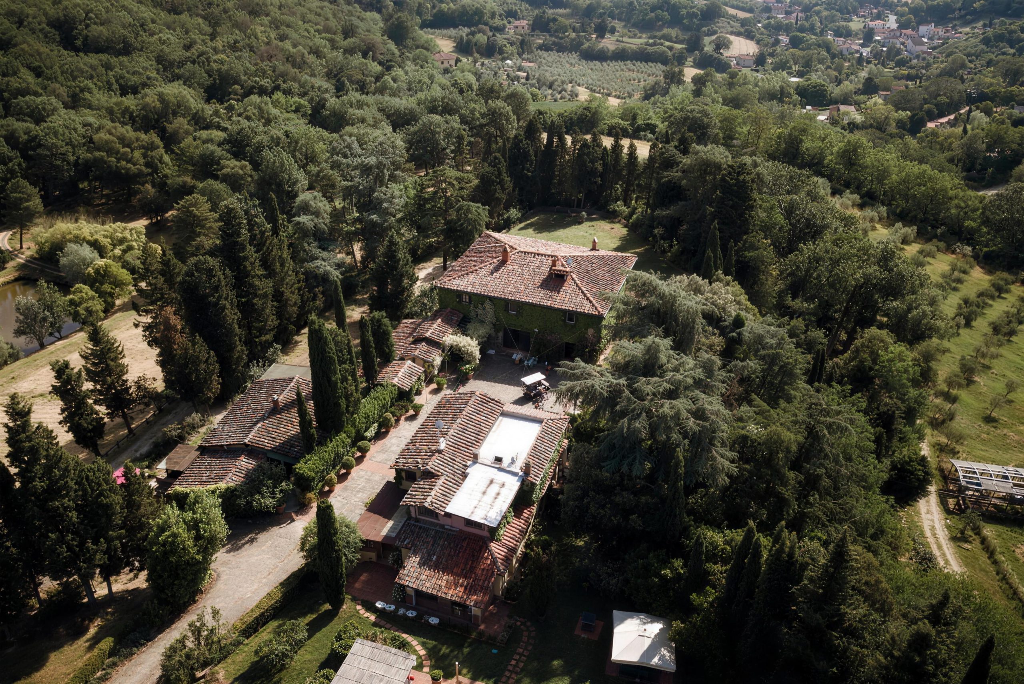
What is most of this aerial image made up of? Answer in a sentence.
The bulk of the photo consists of trees.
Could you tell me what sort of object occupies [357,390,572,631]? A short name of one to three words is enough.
house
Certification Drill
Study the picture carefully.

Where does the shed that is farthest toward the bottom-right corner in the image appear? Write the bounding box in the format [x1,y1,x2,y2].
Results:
[944,458,1024,522]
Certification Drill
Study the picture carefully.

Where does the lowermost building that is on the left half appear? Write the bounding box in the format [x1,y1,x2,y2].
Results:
[332,640,419,684]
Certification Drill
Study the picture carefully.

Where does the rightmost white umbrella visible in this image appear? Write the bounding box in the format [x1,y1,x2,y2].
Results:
[606,610,678,678]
